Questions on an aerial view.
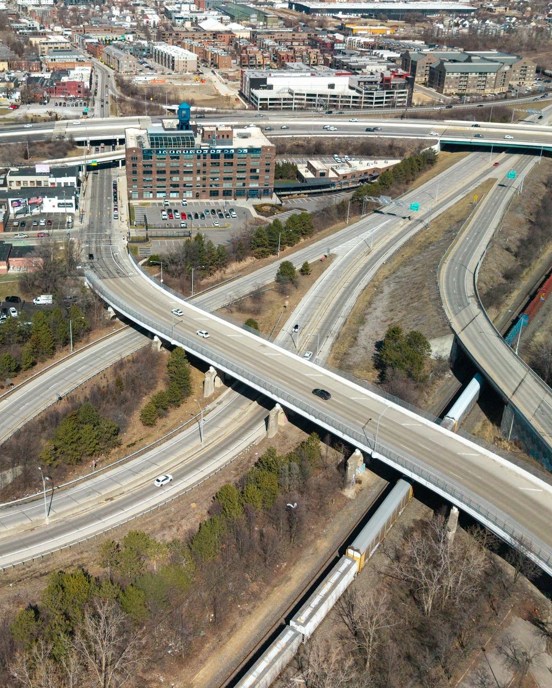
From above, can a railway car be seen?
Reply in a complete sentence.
Yes, a railway car can be made out from above.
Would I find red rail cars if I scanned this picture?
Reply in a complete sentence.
Yes, you can see a red rail car in this photo.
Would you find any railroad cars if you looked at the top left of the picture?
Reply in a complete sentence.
No, there is no railroad car at the top left of the picture.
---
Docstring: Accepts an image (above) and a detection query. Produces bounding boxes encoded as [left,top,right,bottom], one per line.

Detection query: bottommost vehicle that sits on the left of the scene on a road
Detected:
[153,475,172,487]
